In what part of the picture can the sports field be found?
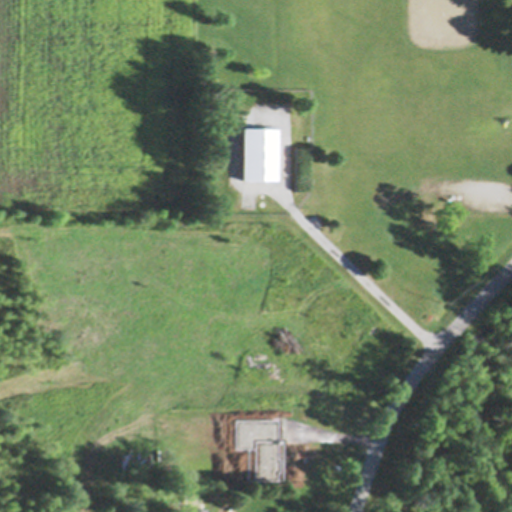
top right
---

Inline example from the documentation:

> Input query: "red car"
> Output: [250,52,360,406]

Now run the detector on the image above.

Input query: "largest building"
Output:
[244,128,281,182]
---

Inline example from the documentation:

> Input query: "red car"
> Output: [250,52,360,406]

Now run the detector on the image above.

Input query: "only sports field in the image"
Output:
[410,0,484,48]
